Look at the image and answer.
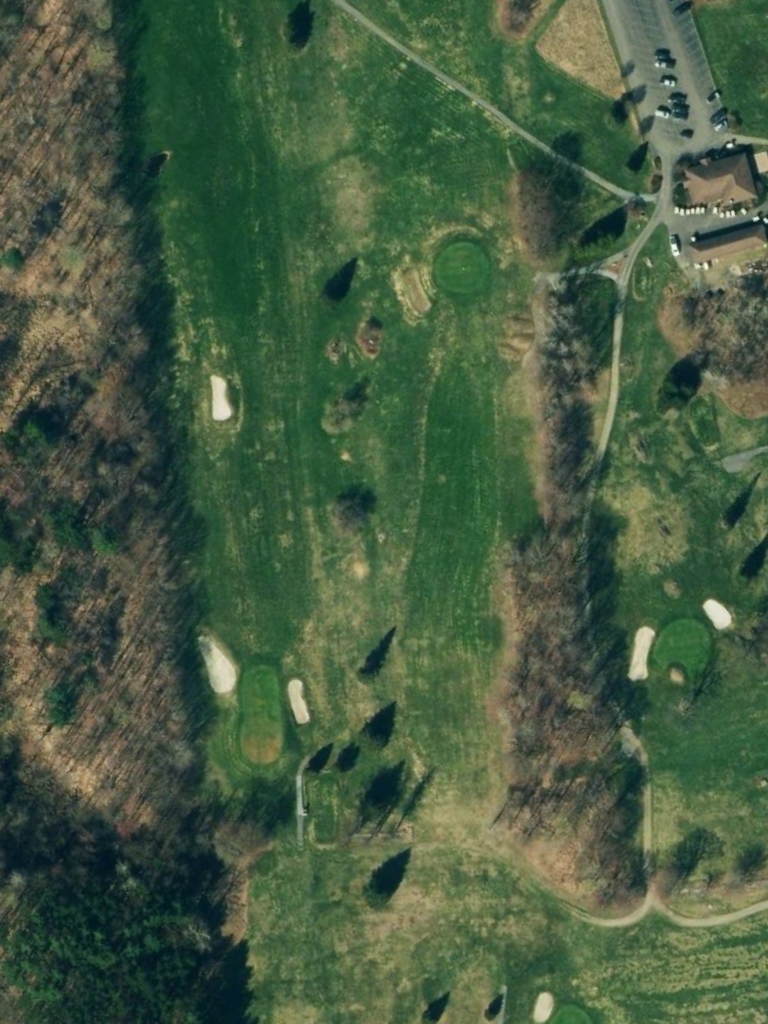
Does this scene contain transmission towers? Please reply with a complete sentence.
No, no transmission tower is visible in the view.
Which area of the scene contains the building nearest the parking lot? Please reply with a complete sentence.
The building nearest the parking lot is in the top right part of the image.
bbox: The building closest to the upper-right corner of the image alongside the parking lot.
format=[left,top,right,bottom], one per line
[683,152,759,212]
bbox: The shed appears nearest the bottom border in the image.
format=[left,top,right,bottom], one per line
[691,224,768,262]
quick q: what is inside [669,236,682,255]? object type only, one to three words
vehicle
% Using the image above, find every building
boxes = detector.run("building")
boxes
[691,224,768,262]
[683,152,759,212]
